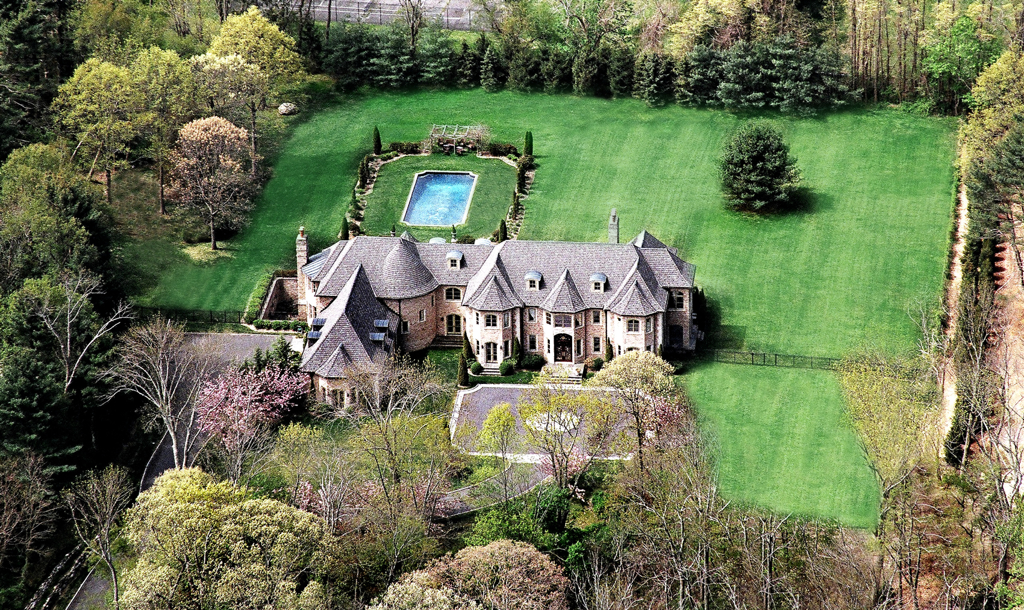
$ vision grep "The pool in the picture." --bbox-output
[403,171,478,225]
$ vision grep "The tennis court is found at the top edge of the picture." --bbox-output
[284,0,514,29]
